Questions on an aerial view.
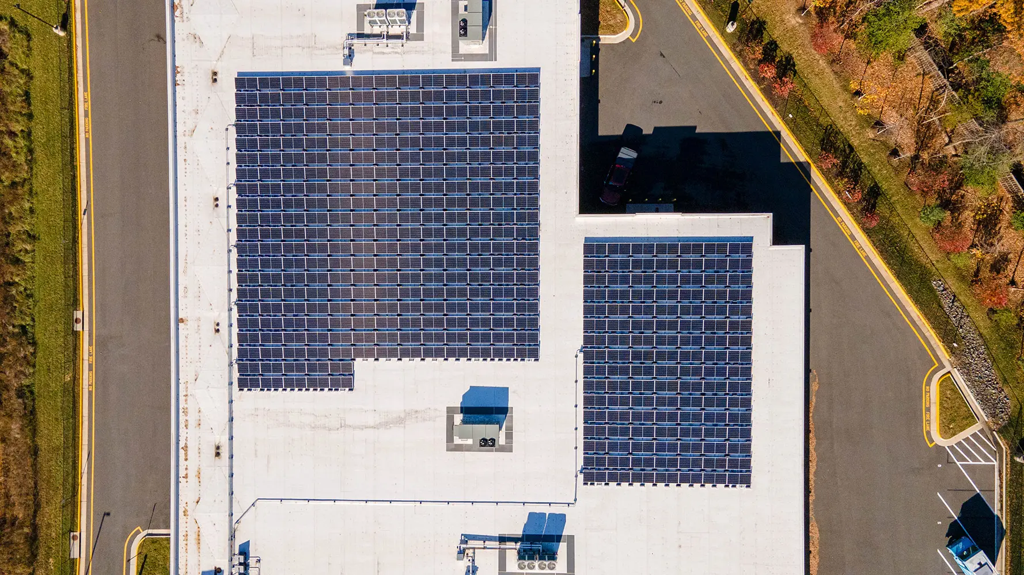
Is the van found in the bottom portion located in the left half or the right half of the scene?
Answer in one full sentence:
The van found in the bottom portion is on the right side of the image.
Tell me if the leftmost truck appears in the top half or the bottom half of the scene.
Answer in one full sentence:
You can find the leftmost truck in the top half.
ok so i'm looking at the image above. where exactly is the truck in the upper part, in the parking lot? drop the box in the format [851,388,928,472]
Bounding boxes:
[599,145,640,207]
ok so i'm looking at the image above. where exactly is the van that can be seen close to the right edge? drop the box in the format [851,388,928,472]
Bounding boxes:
[943,530,998,575]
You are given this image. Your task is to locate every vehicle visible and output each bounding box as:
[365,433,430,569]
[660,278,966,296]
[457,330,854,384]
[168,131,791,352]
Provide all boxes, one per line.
[943,530,998,575]
[599,145,640,207]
